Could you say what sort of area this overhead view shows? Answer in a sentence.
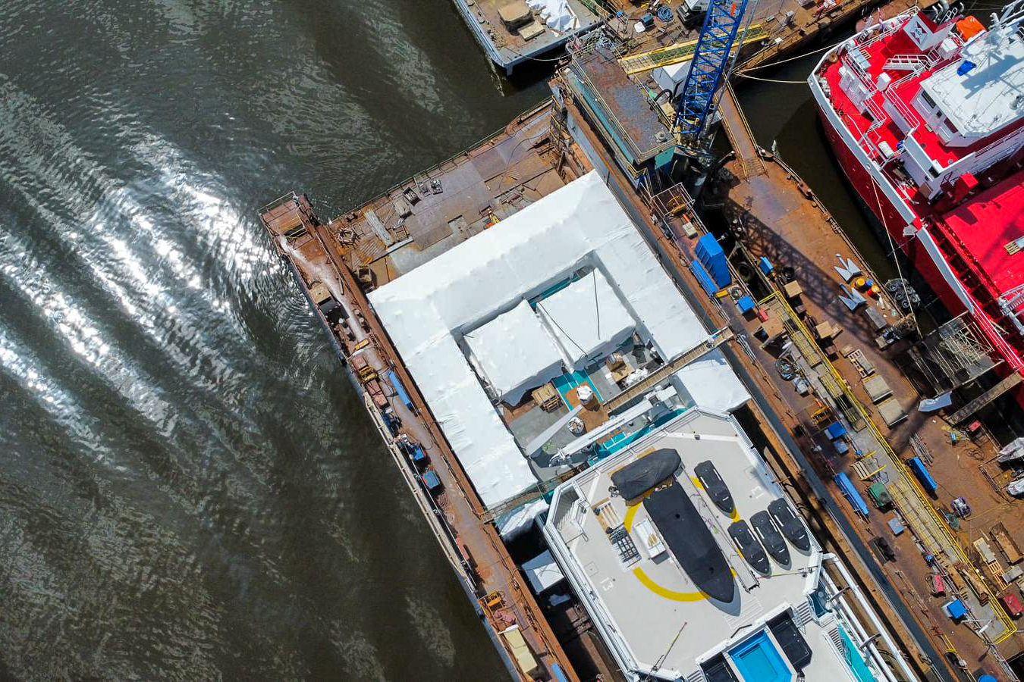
The picture captures a port.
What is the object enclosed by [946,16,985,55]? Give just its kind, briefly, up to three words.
boat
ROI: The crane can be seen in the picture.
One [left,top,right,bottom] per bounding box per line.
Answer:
[645,0,754,184]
